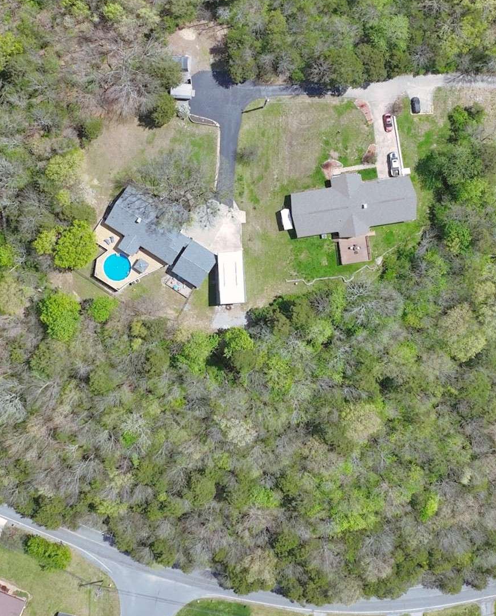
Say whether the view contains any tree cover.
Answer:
Yes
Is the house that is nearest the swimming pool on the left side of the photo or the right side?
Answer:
left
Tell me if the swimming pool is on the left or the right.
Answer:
left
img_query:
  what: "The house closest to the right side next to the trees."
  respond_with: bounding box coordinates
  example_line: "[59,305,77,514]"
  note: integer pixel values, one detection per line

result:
[290,173,416,238]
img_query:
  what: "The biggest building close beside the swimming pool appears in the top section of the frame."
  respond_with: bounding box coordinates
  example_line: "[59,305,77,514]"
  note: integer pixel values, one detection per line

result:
[105,185,189,264]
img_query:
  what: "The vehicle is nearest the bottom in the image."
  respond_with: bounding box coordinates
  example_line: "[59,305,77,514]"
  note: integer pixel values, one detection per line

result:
[390,151,402,175]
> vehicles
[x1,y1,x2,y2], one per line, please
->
[390,151,402,175]
[383,113,395,132]
[411,95,420,114]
